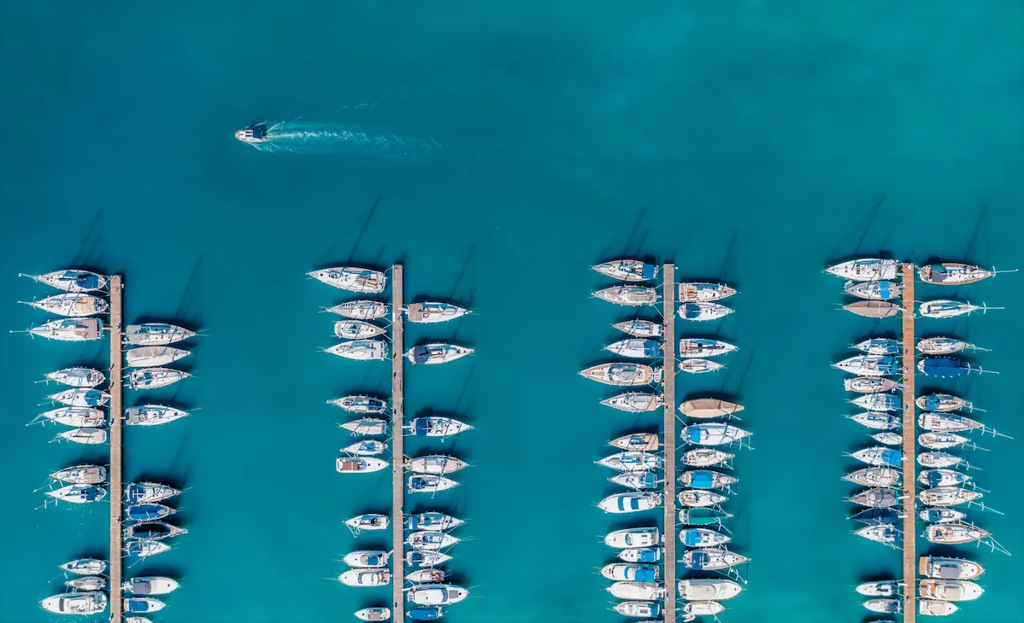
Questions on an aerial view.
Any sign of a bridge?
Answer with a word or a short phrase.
No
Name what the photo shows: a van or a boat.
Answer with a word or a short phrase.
boat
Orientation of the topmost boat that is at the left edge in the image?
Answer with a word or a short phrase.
from side to side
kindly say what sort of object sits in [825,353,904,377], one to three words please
boat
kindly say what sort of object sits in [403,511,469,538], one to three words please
boat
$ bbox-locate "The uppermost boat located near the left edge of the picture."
[23,267,111,293]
